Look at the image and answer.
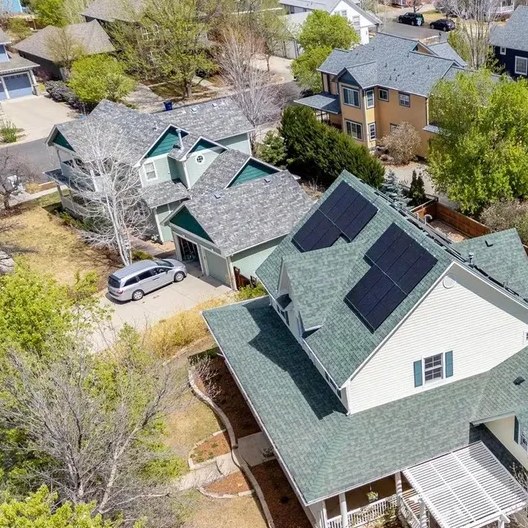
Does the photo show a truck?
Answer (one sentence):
No, the scene contains no truck.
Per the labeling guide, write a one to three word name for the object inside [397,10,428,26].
car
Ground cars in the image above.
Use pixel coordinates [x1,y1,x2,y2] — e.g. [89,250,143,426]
[397,10,428,26]
[102,257,189,300]
[427,15,457,31]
